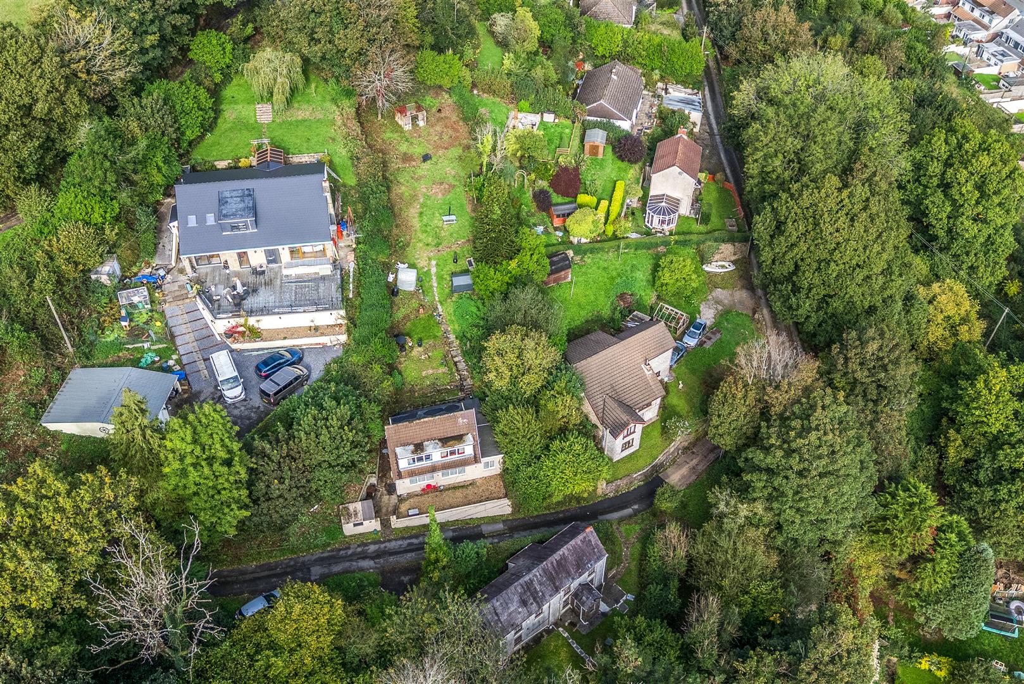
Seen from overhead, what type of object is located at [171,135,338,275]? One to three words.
house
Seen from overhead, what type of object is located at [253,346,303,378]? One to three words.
car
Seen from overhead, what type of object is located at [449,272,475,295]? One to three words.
shed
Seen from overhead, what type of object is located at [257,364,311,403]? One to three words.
van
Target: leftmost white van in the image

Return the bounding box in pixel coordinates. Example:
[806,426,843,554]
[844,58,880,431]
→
[208,350,242,398]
